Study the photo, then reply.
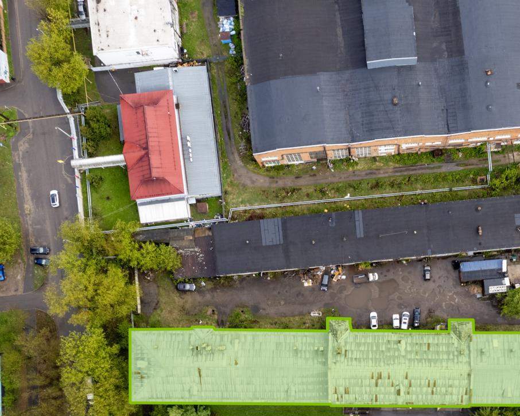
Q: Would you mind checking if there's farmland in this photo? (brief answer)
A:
No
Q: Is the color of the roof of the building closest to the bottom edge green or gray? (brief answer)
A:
green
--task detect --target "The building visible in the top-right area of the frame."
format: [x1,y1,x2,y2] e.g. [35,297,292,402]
[243,0,520,169]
